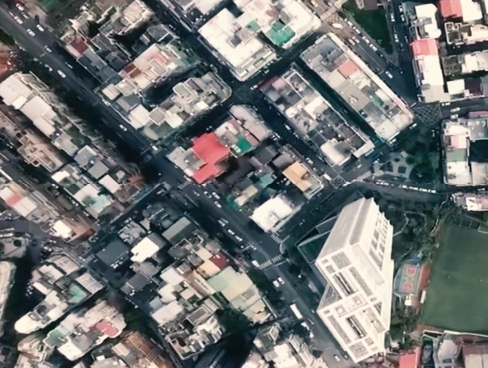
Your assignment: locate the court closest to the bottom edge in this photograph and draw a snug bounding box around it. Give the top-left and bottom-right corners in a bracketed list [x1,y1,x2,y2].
[394,260,430,295]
